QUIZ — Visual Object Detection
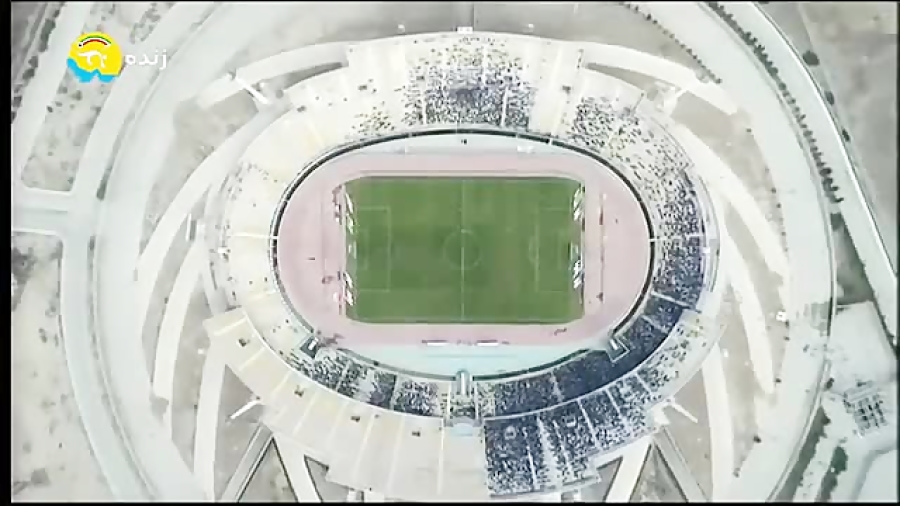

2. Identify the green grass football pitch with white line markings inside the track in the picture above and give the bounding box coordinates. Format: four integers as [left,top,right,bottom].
[342,175,586,326]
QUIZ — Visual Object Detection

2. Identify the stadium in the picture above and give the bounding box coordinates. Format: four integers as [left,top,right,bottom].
[191,33,733,504]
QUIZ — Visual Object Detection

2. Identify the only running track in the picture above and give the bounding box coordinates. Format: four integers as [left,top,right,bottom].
[275,129,655,377]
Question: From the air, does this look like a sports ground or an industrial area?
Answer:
sports ground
